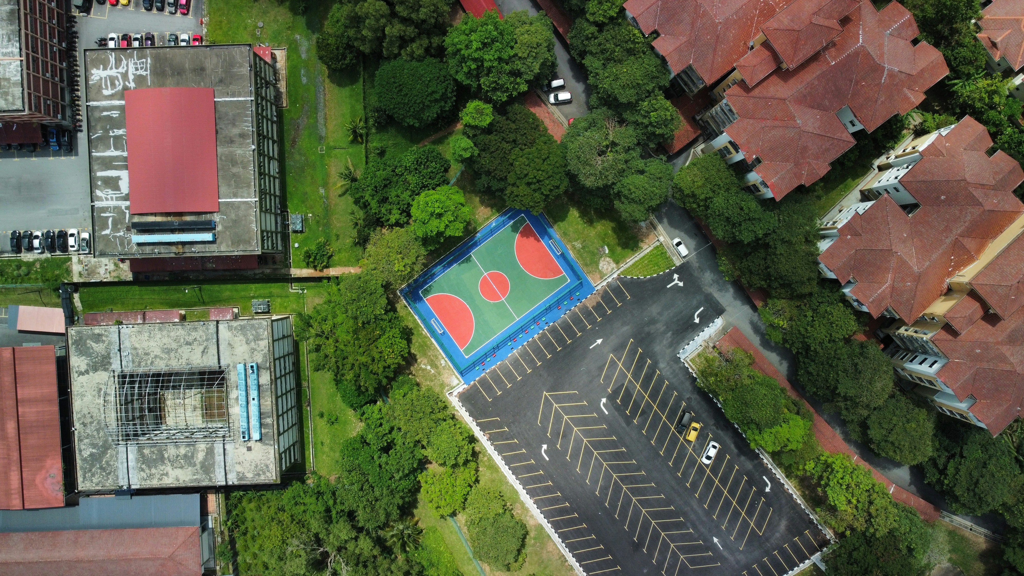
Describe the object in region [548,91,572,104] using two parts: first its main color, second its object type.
white vehicle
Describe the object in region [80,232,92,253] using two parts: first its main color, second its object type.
gray vehicle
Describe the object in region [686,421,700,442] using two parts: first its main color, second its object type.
yellow car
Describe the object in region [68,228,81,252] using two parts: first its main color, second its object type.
white vehicle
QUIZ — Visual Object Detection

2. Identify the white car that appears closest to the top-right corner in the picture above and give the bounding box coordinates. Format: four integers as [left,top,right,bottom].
[672,236,689,258]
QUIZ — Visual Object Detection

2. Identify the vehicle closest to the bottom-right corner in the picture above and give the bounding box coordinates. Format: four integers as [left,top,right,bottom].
[702,440,717,464]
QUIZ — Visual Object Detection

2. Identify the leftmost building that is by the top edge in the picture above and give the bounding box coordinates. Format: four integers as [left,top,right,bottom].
[0,0,70,129]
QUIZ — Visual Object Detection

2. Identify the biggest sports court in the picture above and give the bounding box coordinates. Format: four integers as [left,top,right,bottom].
[401,201,594,383]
